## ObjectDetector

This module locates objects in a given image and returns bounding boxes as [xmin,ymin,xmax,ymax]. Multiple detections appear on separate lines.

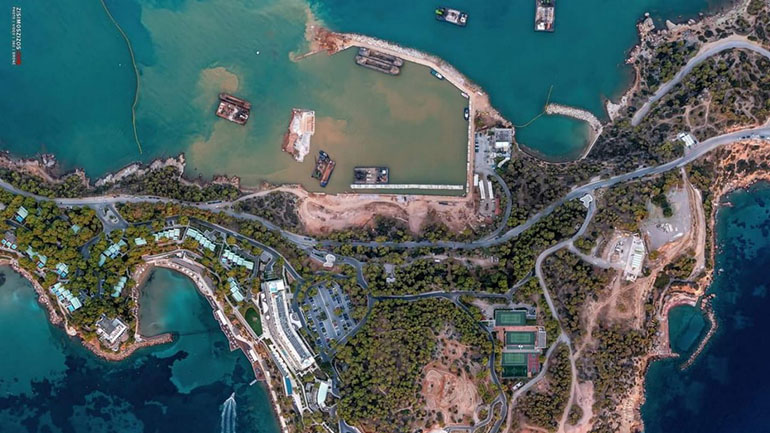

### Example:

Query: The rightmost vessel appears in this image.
[535,0,555,31]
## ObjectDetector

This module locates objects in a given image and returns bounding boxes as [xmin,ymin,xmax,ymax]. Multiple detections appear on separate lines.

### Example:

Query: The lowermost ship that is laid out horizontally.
[355,168,389,183]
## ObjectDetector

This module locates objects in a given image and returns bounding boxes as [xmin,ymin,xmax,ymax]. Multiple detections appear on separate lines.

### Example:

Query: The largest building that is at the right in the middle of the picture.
[624,236,646,278]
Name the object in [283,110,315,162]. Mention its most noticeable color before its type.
white ship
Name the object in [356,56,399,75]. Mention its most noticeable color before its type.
gray ship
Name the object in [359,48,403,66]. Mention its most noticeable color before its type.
gray ship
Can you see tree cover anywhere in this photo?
Yes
